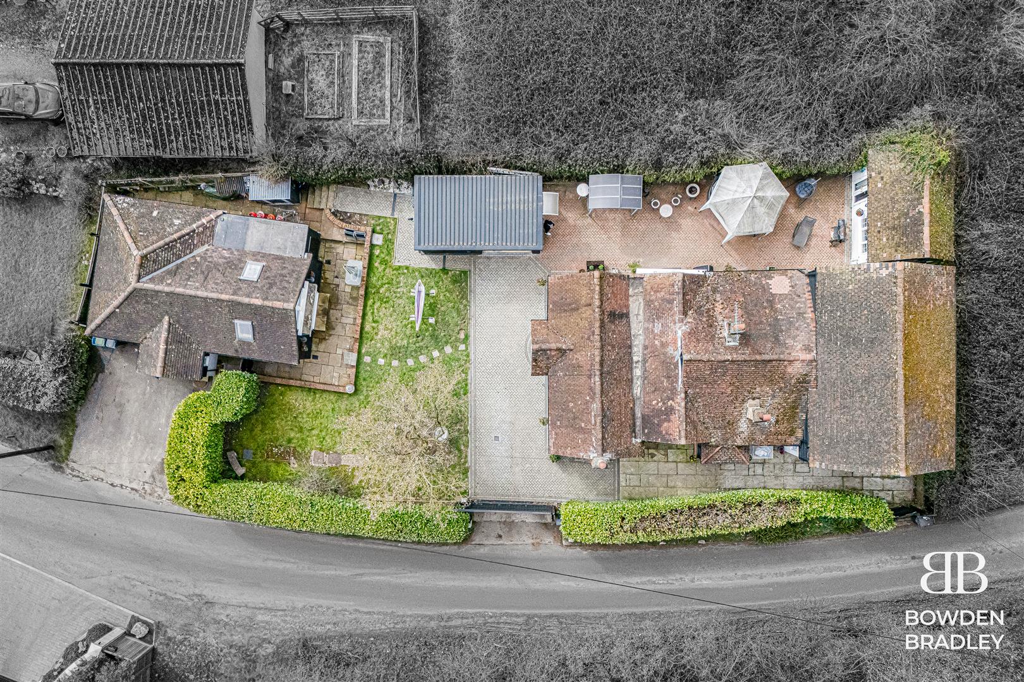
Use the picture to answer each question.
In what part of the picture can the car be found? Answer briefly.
top left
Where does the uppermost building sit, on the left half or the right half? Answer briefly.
left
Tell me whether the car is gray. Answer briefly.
Yes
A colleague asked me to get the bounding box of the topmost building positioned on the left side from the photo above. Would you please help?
[44,0,265,163]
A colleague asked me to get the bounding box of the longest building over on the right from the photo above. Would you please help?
[531,263,957,476]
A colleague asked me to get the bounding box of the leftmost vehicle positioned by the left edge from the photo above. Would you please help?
[0,78,61,125]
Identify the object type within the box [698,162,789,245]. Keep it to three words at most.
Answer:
gazebo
